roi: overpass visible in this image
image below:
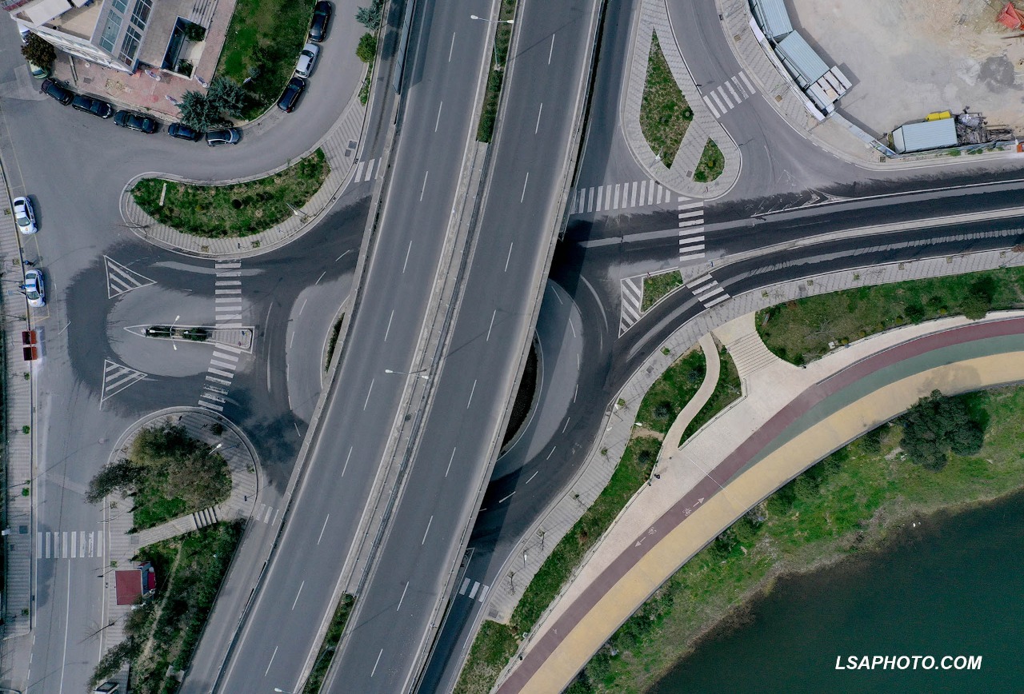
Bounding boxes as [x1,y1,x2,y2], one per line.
[210,0,604,694]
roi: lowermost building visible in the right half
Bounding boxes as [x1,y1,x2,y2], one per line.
[883,118,958,158]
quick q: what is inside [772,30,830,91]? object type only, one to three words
building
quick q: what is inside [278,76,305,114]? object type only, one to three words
car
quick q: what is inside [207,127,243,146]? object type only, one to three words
car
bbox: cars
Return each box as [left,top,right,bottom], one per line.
[207,127,243,146]
[167,121,202,142]
[28,58,52,84]
[115,110,158,135]
[72,93,115,119]
[296,43,319,79]
[14,196,39,236]
[25,270,48,308]
[309,1,333,42]
[278,76,305,114]
[40,79,75,106]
